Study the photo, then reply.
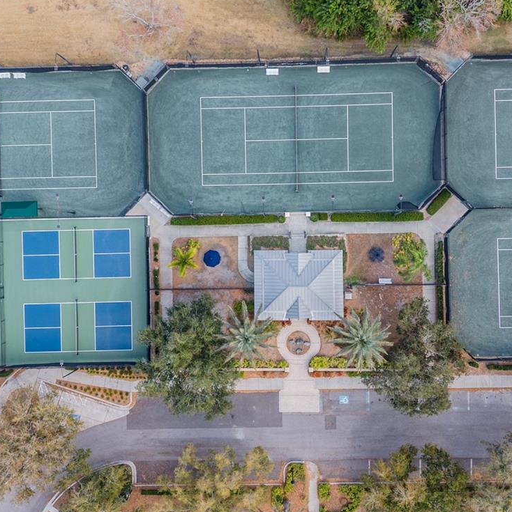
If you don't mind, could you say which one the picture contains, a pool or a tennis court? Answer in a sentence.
Looking from above, you can make out a tennis court.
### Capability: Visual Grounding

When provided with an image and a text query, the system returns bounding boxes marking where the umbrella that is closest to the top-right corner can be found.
[368,246,383,261]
